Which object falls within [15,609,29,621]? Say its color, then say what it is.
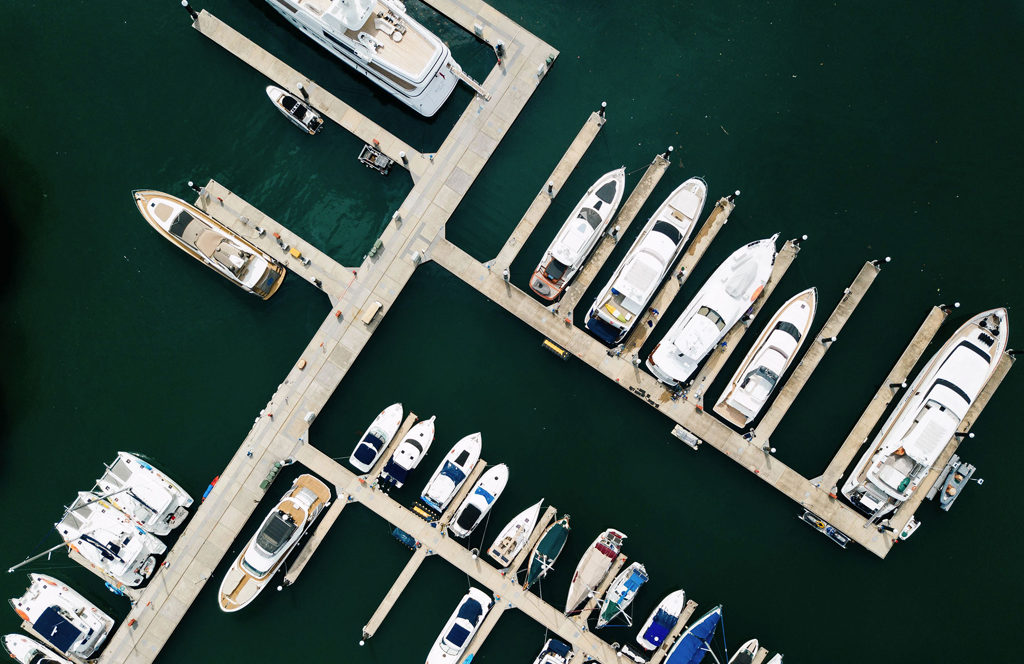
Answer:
orange boat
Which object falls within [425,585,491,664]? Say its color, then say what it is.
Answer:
white boat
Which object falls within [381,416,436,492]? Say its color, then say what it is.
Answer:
white boat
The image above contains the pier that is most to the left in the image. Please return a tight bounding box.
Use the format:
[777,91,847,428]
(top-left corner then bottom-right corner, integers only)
[20,621,99,664]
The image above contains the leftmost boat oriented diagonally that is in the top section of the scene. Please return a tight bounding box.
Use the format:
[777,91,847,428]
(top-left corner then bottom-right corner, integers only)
[129,188,289,302]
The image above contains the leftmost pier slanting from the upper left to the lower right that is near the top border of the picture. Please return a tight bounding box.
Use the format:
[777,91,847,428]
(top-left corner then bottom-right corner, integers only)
[192,9,437,185]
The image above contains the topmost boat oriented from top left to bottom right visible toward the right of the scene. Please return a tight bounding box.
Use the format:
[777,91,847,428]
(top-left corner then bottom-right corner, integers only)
[606,305,626,323]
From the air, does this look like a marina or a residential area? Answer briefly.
marina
